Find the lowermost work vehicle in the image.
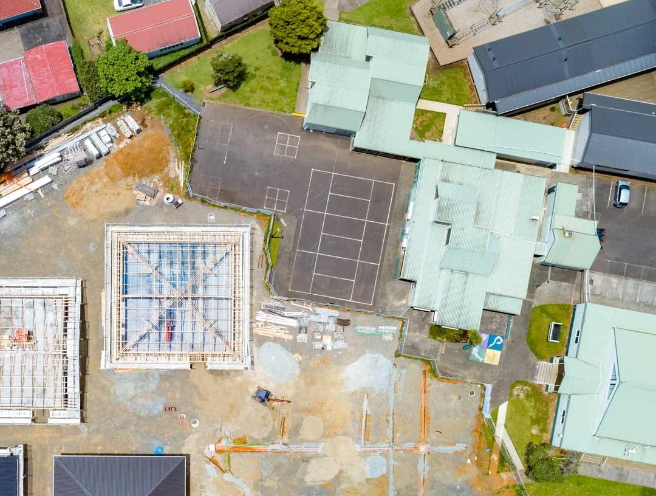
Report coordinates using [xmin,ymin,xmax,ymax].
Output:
[254,384,293,405]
